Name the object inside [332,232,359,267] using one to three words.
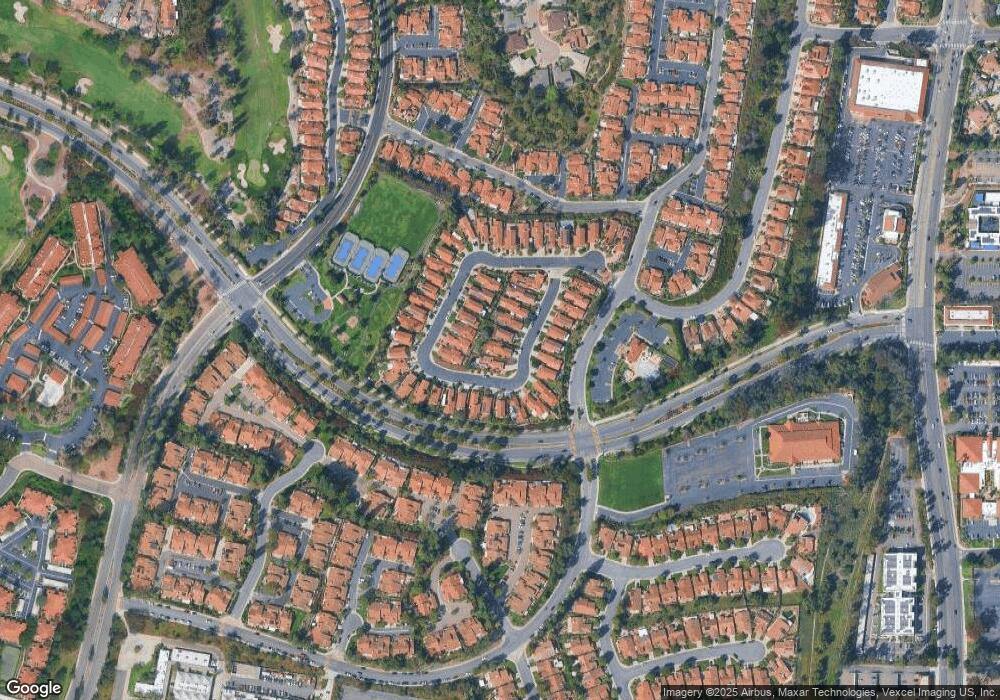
tennis court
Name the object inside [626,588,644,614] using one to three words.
house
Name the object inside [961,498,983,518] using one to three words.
building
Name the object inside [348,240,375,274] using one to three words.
tennis court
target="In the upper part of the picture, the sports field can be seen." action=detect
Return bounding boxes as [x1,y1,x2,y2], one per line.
[348,173,438,255]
